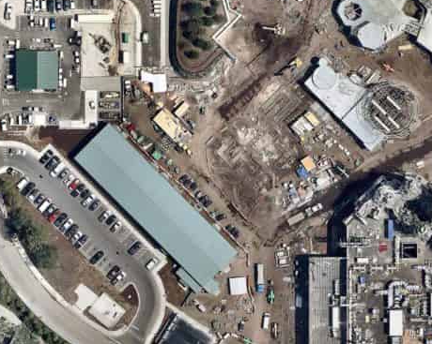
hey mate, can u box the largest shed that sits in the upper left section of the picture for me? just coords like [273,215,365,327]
[15,49,58,91]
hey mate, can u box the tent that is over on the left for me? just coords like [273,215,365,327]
[141,70,167,92]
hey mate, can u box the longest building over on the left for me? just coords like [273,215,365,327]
[73,126,235,293]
